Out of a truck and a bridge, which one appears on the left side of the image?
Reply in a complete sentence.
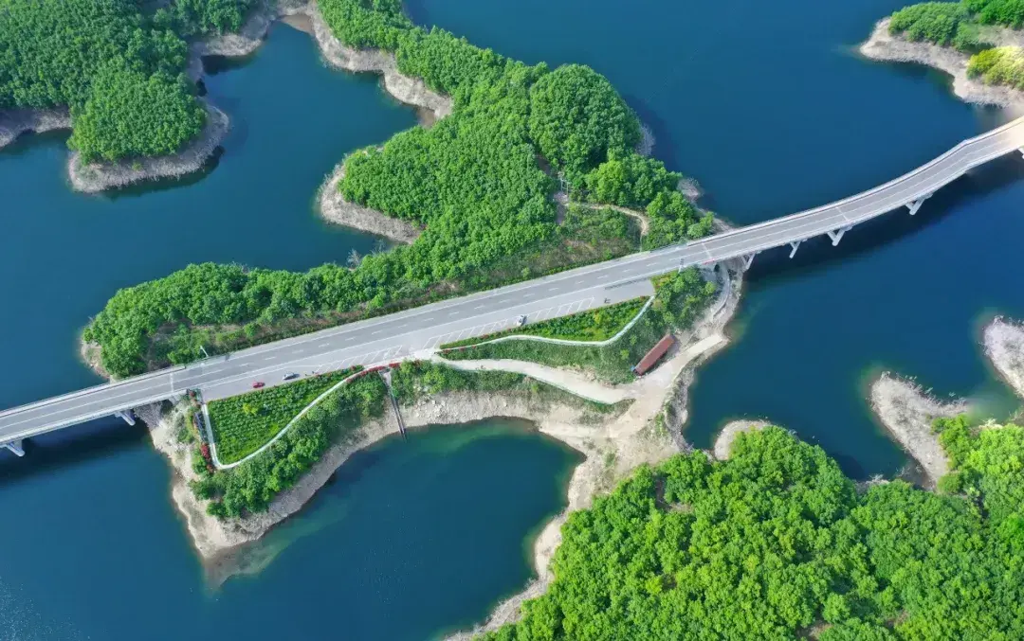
It is a bridge that can be seen on the left side of the image.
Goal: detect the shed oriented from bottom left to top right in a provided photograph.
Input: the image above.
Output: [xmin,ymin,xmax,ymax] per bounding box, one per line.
[635,335,677,378]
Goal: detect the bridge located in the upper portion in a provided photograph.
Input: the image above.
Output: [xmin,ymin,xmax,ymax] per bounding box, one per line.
[684,115,1024,273]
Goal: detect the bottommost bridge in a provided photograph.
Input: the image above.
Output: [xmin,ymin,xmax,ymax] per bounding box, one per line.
[0,361,195,457]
